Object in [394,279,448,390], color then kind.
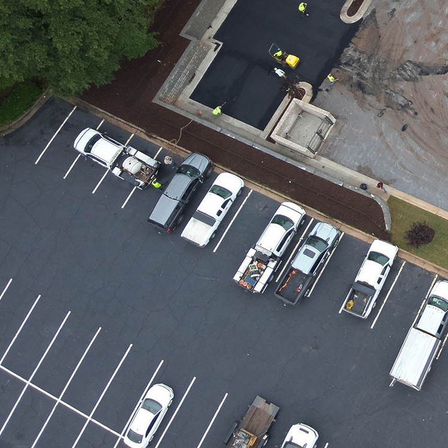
white truck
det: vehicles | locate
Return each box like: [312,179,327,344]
[146,152,214,234]
[394,279,448,390]
[344,239,399,323]
[184,173,247,251]
[262,35,304,70]
[238,202,307,293]
[283,423,320,448]
[72,128,162,195]
[121,381,176,448]
[276,221,341,308]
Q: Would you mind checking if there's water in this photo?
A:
No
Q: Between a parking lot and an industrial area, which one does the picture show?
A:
parking lot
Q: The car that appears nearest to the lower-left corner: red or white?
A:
white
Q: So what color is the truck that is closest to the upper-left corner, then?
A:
white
